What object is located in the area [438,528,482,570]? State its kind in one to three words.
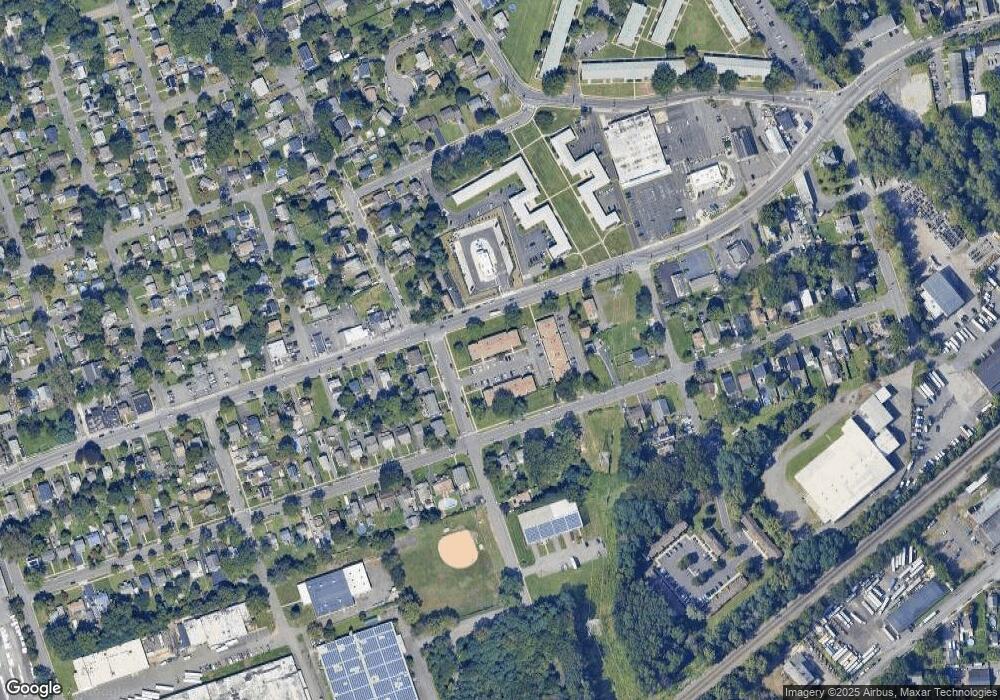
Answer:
sports field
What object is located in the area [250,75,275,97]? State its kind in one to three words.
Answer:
house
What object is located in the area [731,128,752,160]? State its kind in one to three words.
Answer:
building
